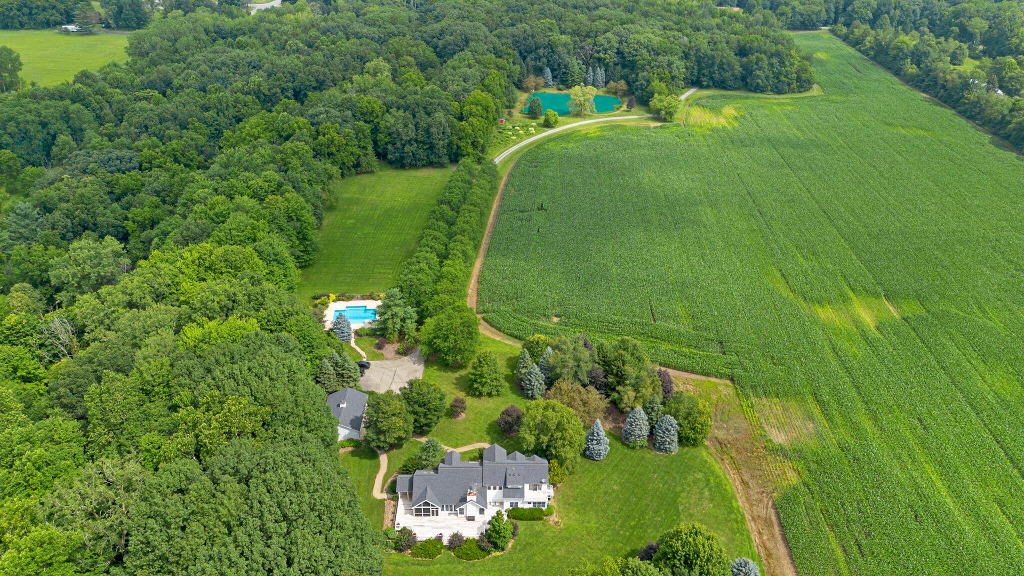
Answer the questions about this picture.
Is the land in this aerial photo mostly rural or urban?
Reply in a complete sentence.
The area shown here is rural.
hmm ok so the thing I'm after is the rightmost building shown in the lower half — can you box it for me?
[394,442,556,545]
